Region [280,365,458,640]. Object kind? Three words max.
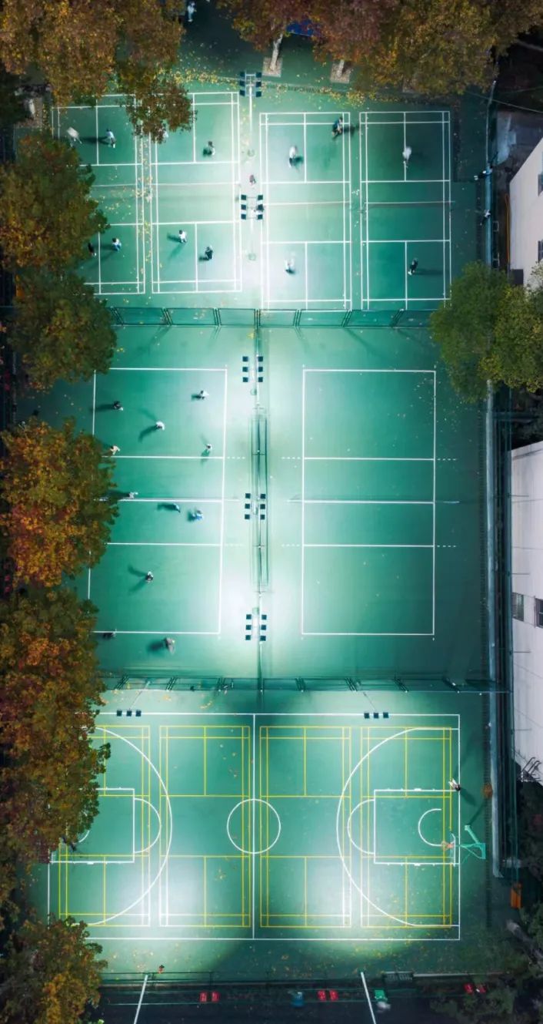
sports court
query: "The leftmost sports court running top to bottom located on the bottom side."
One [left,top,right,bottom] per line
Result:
[59,726,150,927]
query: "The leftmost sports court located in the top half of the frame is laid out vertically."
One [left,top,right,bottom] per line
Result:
[49,89,148,301]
